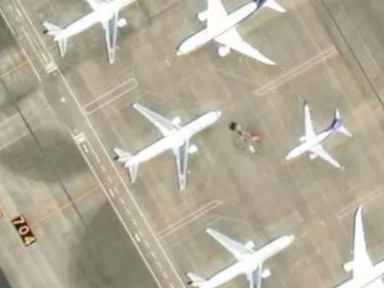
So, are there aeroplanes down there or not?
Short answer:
Yes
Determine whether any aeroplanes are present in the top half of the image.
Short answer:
Yes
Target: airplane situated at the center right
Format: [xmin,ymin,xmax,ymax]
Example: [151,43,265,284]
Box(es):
[286,100,353,166]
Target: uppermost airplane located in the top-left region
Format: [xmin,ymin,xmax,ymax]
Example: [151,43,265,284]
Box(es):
[45,0,135,61]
